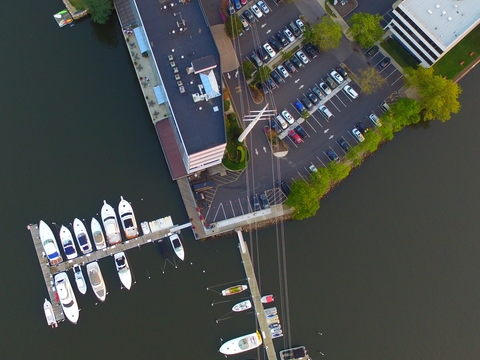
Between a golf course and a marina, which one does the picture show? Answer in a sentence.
It's a marina.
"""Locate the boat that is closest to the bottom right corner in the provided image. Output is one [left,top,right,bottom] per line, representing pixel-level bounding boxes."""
[276,345,308,360]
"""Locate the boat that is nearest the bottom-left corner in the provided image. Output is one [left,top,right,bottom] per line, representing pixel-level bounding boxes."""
[44,298,56,326]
